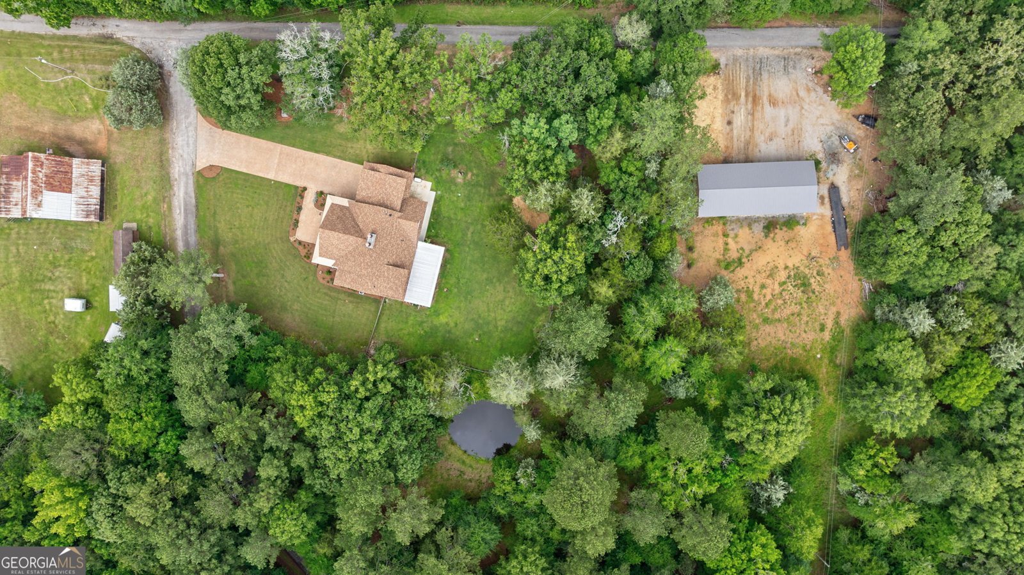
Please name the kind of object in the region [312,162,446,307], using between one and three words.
house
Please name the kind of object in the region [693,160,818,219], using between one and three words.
building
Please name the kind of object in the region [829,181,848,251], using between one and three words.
trailer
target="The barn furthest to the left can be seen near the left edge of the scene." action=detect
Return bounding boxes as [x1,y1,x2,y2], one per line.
[0,151,111,221]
